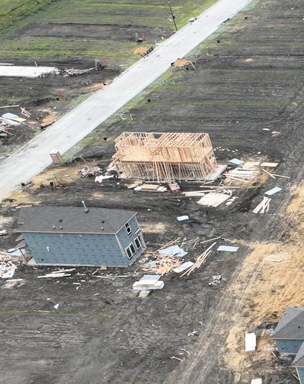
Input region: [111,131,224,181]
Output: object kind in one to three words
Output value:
house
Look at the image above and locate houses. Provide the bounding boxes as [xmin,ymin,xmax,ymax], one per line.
[111,131,224,181]
[7,204,148,269]
[272,306,304,355]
